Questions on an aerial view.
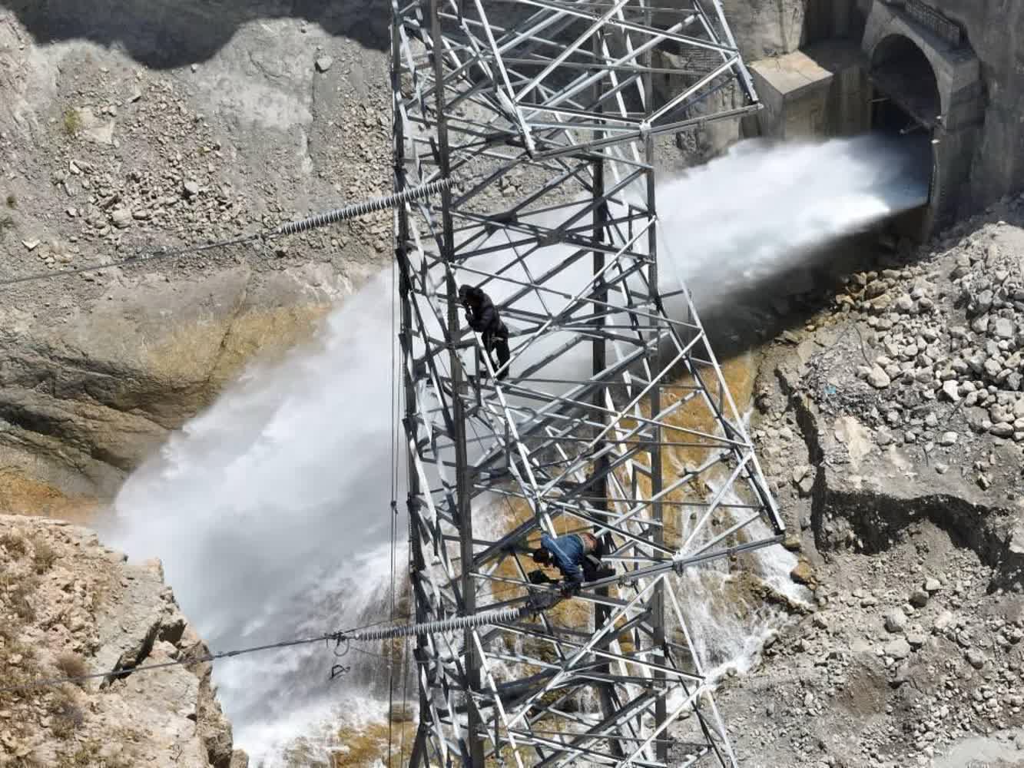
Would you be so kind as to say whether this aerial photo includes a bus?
No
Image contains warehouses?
No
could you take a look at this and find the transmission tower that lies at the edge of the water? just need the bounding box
[383,0,793,768]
